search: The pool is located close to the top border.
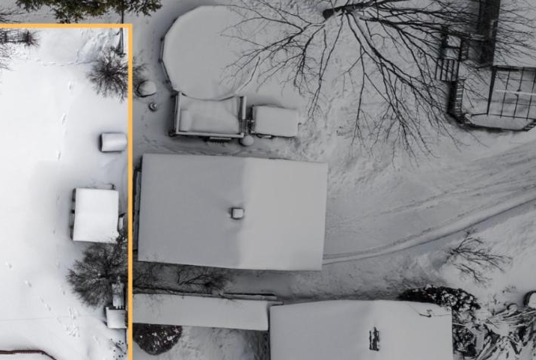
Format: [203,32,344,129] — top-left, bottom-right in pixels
[157,4,256,101]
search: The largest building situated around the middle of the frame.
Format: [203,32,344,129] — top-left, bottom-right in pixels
[135,153,328,271]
